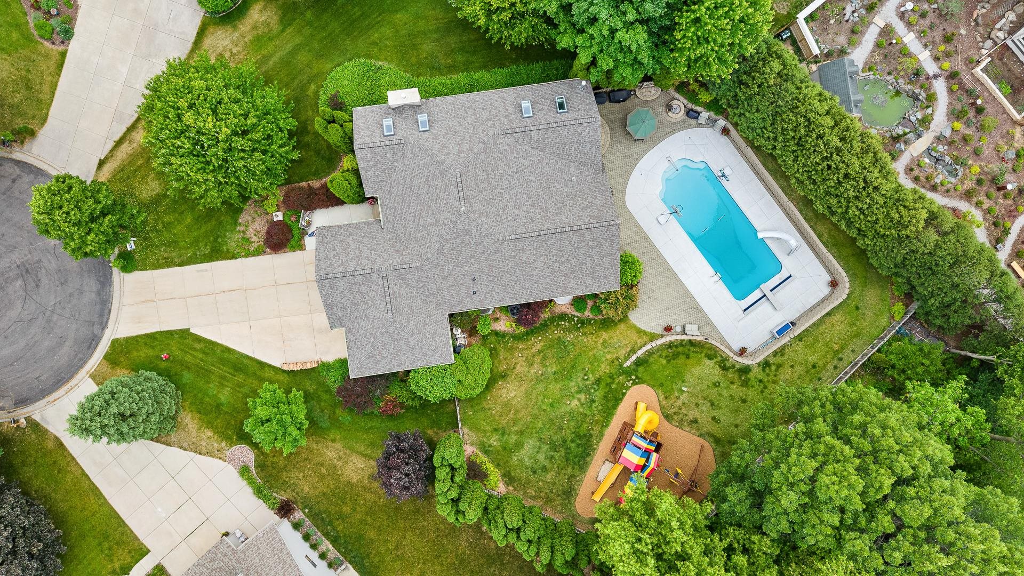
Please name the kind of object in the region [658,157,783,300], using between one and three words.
swimming pool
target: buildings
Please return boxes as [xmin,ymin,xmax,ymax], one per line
[314,77,621,378]
[177,514,342,576]
[816,58,866,113]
